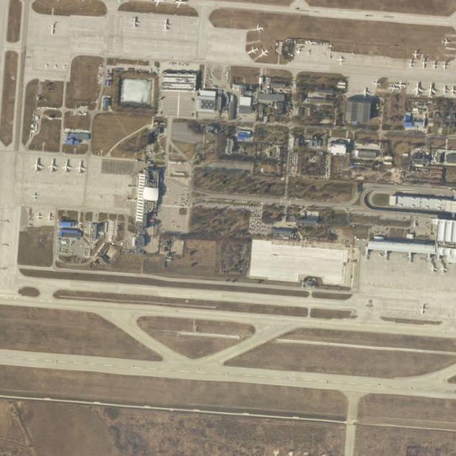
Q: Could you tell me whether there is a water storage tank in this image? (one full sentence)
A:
No, the scene contains no water storage tank.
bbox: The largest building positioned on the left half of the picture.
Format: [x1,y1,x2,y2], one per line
[131,168,158,222]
